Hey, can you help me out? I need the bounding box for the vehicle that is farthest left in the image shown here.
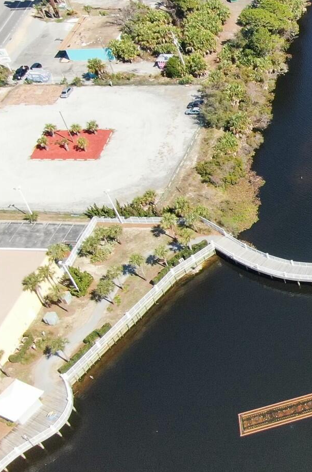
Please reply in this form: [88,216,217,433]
[10,64,26,78]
